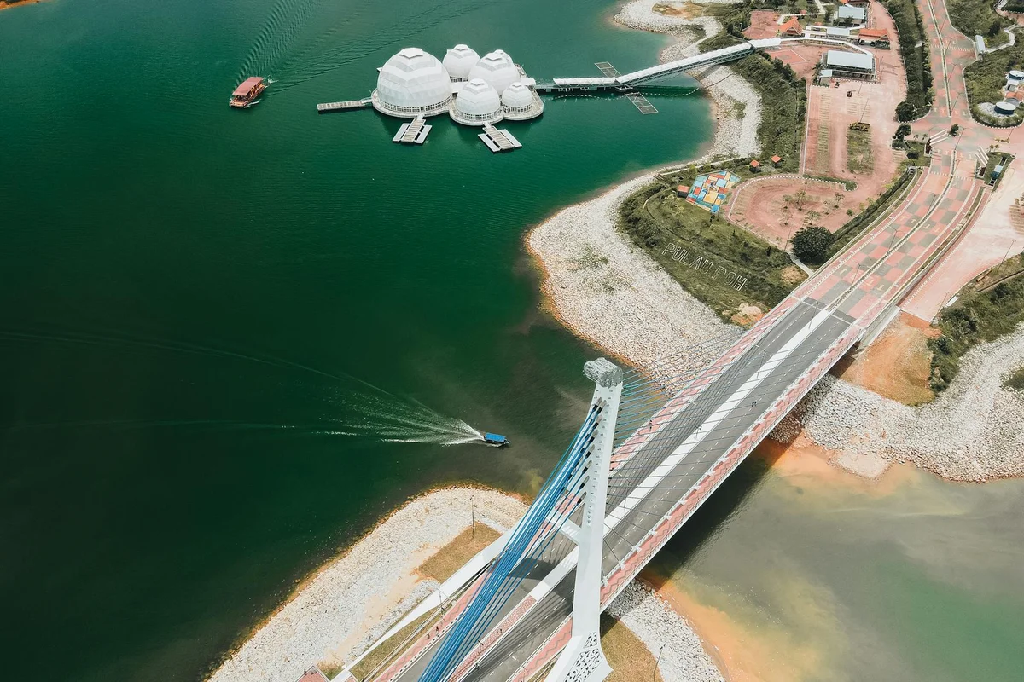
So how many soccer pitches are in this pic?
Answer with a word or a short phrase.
0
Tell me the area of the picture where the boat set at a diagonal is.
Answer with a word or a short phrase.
top left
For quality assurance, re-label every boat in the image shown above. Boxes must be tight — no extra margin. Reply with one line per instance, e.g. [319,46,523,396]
[233,79,265,105]
[484,434,510,446]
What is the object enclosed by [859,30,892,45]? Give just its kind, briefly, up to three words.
building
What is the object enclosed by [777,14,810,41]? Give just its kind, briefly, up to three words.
building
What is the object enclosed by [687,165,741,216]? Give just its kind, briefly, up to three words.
playground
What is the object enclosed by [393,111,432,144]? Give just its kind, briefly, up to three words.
pier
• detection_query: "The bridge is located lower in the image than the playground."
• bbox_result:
[356,292,865,682]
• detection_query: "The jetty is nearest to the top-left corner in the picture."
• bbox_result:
[317,96,376,111]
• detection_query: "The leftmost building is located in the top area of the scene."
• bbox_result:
[370,43,545,128]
